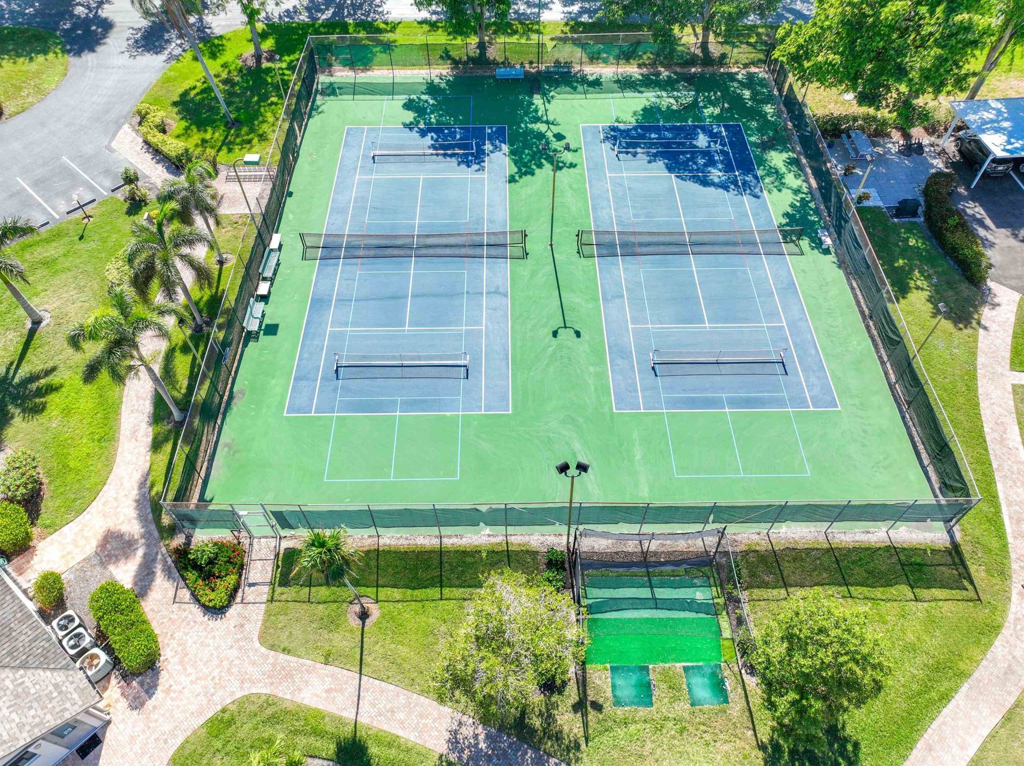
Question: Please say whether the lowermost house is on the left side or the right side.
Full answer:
The lowermost house appears in the left half of the scene.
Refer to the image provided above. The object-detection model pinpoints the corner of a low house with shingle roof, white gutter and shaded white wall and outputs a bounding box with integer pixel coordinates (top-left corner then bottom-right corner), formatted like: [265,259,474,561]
[0,562,110,766]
